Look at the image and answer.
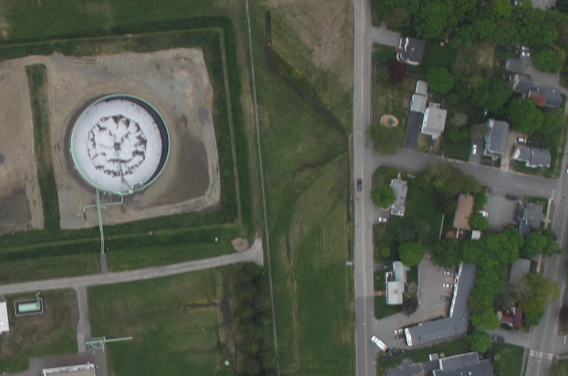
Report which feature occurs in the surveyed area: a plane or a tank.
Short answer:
tank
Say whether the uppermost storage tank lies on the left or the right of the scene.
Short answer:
left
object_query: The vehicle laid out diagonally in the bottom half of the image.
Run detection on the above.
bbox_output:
[371,336,388,351]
